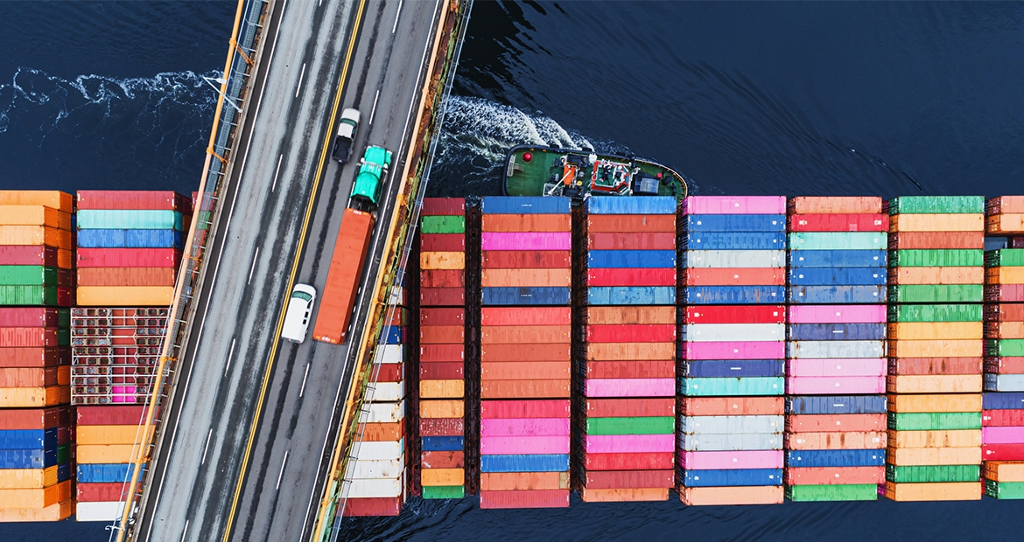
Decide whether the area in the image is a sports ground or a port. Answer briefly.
port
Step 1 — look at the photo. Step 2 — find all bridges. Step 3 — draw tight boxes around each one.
[111,0,473,542]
